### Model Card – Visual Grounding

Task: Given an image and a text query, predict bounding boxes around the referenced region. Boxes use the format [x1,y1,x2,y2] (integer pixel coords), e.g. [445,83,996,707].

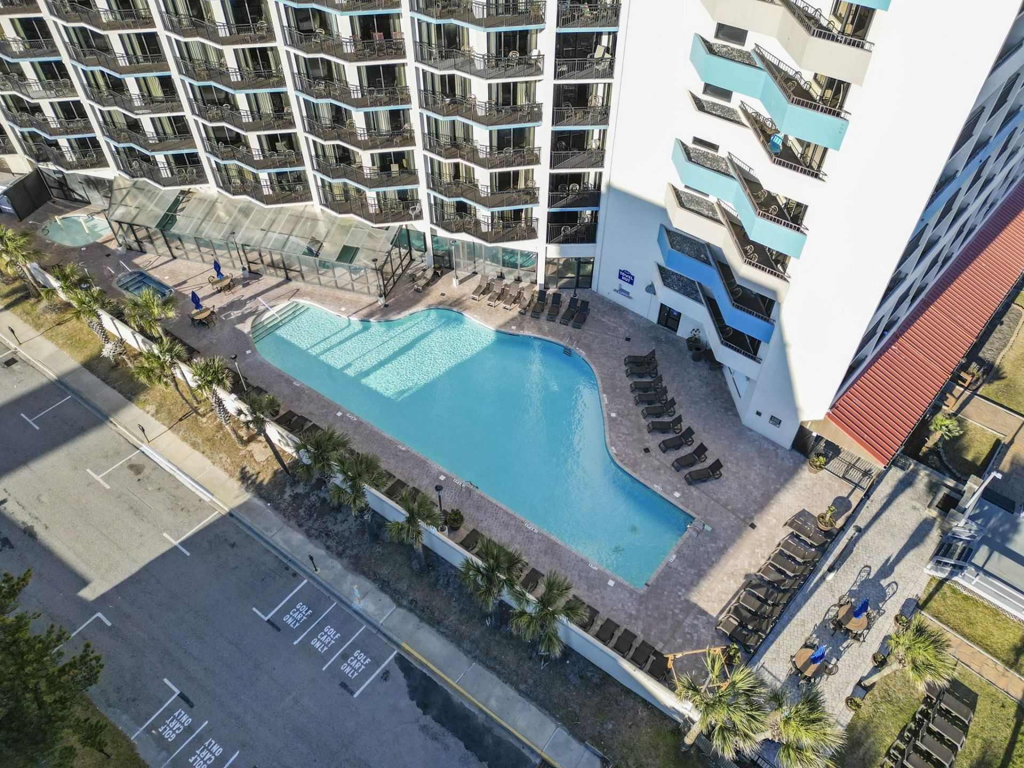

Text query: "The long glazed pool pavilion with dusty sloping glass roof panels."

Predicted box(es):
[111,181,414,299]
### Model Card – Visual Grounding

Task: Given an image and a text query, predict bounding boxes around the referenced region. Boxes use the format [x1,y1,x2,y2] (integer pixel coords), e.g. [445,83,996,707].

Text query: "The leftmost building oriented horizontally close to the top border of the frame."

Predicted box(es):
[0,0,627,291]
